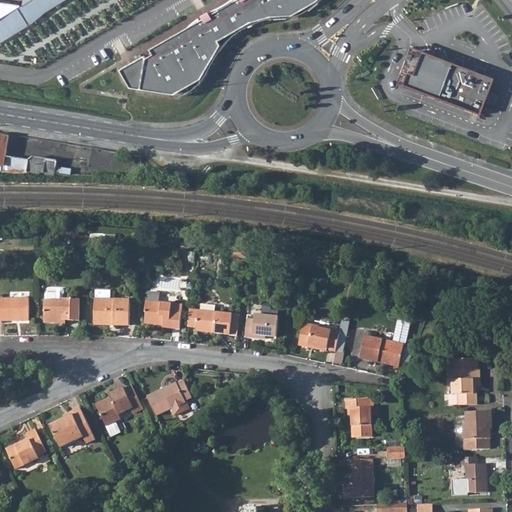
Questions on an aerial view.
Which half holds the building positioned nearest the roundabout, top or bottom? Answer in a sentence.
It is in the top half that the building positioned nearest the roundabout appears.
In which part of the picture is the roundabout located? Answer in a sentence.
The roundabout appears toward the top of the photo.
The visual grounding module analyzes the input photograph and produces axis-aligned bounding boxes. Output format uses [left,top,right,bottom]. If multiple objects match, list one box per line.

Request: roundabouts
[224,36,340,152]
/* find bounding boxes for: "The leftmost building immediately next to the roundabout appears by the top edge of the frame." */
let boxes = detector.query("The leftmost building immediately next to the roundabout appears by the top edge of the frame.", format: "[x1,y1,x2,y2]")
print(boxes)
[118,0,318,94]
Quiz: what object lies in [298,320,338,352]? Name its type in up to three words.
house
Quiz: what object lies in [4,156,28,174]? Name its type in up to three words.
building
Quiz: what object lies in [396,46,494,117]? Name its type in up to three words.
building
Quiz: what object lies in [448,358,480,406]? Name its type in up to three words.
house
